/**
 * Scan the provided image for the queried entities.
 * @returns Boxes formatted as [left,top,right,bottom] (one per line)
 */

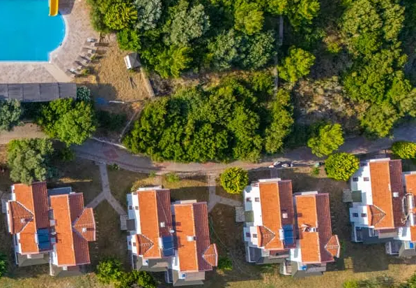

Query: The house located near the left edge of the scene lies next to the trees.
[0,182,94,277]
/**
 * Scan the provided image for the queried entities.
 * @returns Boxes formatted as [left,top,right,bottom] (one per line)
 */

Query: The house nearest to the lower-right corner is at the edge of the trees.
[337,157,416,255]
